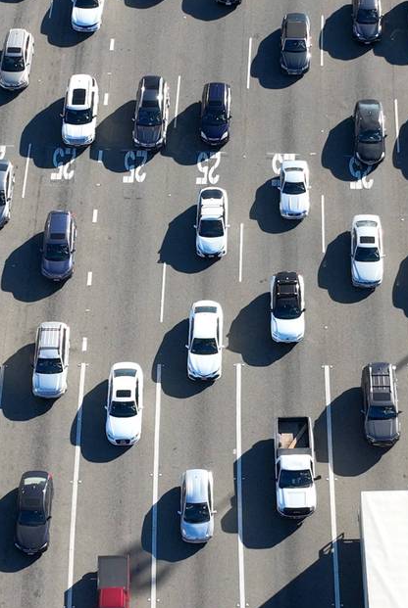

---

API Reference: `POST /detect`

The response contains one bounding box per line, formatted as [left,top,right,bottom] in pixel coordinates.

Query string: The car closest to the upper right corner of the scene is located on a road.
[350,0,384,44]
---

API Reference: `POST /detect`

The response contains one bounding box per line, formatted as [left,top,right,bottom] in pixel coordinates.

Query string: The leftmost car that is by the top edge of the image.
[0,27,36,91]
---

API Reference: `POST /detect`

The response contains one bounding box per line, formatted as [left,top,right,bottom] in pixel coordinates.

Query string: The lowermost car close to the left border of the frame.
[13,473,55,556]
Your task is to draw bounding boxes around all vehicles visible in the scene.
[359,491,408,608]
[61,73,99,147]
[279,15,313,76]
[350,0,384,44]
[38,210,76,281]
[353,101,388,166]
[0,162,14,227]
[361,362,403,447]
[273,416,319,521]
[268,268,307,343]
[198,81,233,147]
[350,217,387,289]
[105,365,144,446]
[278,161,311,221]
[186,303,224,381]
[13,473,55,556]
[180,469,217,544]
[70,0,106,32]
[132,75,169,148]
[31,321,72,398]
[0,27,36,91]
[93,553,132,608]
[193,186,230,258]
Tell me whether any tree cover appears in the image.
No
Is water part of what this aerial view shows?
No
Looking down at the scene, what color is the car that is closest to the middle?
white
